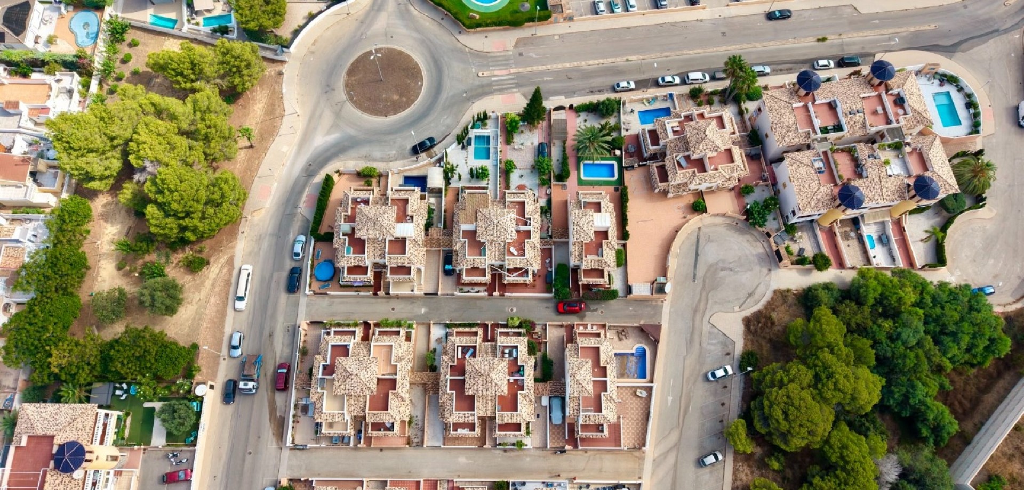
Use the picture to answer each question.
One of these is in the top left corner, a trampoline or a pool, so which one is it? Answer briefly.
pool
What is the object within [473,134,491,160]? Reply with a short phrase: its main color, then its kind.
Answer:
blue swimming pool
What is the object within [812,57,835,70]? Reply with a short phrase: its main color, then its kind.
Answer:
white vehicle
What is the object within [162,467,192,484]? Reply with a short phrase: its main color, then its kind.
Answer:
red car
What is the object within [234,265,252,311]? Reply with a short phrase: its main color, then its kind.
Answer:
white car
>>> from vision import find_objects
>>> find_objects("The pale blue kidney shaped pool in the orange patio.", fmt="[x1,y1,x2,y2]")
[69,8,100,46]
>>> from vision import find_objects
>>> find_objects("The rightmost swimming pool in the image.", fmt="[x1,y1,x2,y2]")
[931,91,963,128]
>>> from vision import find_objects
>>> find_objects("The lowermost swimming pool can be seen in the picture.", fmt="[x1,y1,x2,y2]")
[613,344,648,381]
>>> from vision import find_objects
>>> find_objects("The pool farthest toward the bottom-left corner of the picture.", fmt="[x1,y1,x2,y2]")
[313,260,337,283]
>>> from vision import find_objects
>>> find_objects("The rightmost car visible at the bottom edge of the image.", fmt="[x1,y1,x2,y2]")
[698,450,724,467]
